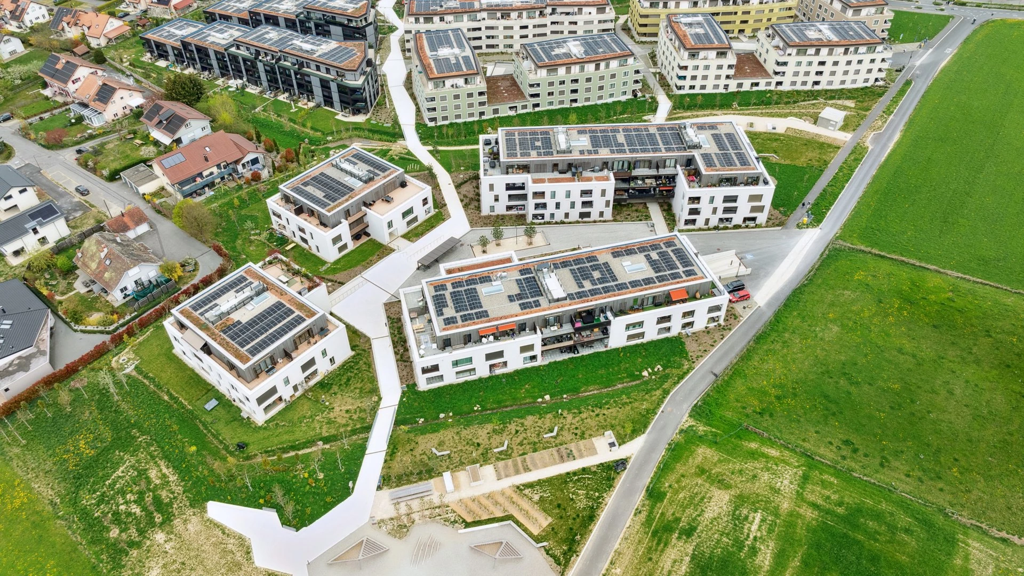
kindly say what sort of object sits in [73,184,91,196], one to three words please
vehicle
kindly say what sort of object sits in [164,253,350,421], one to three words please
building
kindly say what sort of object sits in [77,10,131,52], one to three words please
house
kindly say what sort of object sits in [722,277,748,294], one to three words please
car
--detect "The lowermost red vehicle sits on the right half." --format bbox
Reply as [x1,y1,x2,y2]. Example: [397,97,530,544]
[729,288,753,303]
